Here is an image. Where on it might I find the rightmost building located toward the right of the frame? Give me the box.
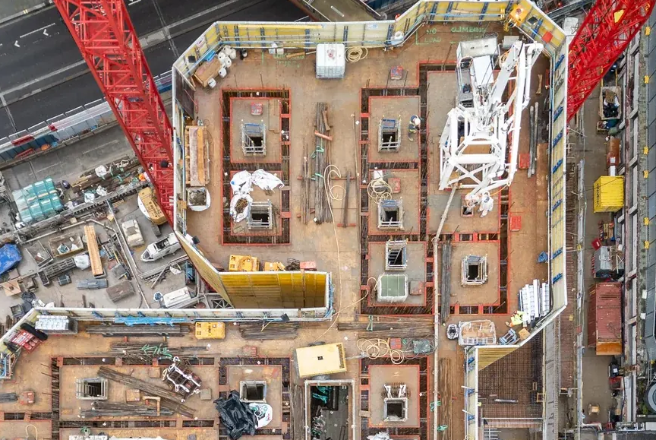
[588,247,632,283]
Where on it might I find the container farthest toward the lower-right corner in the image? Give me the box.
[586,279,624,351]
